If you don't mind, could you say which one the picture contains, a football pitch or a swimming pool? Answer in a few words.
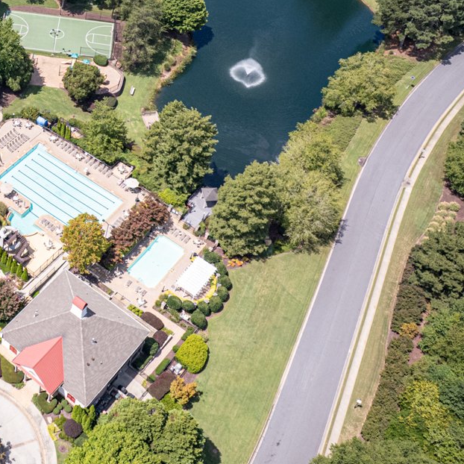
swimming pool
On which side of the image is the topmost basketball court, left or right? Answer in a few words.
left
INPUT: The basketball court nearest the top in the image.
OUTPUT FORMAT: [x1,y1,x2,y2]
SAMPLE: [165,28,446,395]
[0,7,118,61]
